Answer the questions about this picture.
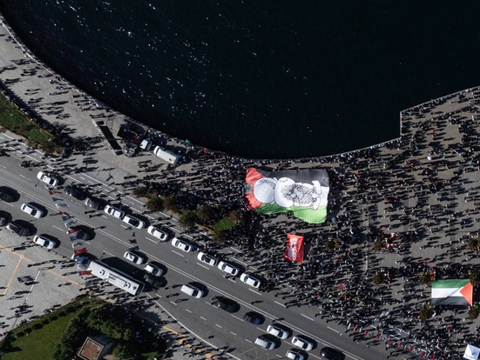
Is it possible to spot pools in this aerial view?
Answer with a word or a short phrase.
No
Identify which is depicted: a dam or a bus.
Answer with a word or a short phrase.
bus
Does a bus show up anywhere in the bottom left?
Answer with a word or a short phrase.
Yes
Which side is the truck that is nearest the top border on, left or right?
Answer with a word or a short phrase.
left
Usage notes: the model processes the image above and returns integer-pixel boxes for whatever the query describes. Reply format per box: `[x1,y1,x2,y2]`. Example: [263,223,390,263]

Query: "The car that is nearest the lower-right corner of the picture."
[320,346,343,360]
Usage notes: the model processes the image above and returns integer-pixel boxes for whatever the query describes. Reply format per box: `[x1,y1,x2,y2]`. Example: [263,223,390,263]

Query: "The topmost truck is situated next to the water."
[113,119,155,155]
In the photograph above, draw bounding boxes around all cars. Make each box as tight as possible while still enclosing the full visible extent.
[103,203,126,221]
[140,271,166,291]
[253,335,278,352]
[266,323,289,340]
[121,249,147,266]
[147,224,172,243]
[20,203,45,219]
[179,284,205,300]
[320,346,343,360]
[6,220,32,238]
[143,261,166,278]
[63,185,89,202]
[83,195,104,211]
[121,213,148,232]
[196,250,219,268]
[290,335,314,353]
[0,187,16,203]
[238,272,263,290]
[34,235,57,250]
[284,349,306,360]
[68,226,94,243]
[217,260,241,277]
[170,237,194,253]
[243,311,265,326]
[0,215,11,228]
[214,297,237,314]
[37,170,61,188]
